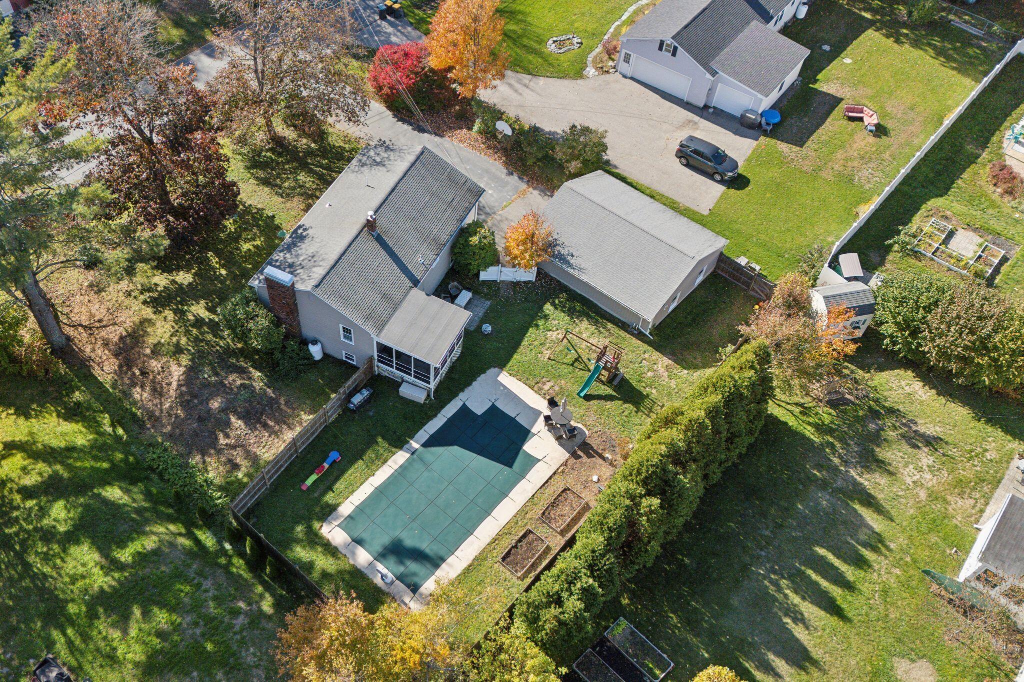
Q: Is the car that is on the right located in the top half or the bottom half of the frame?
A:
top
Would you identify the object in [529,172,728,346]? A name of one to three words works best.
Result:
building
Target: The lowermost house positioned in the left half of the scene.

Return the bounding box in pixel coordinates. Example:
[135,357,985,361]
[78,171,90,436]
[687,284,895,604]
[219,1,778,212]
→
[248,145,486,400]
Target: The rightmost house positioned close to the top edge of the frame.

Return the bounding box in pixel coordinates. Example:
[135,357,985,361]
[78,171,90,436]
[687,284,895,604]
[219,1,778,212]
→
[617,0,809,114]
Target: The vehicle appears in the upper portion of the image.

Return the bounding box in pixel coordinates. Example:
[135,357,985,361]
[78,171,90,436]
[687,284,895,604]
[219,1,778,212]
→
[674,132,741,181]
